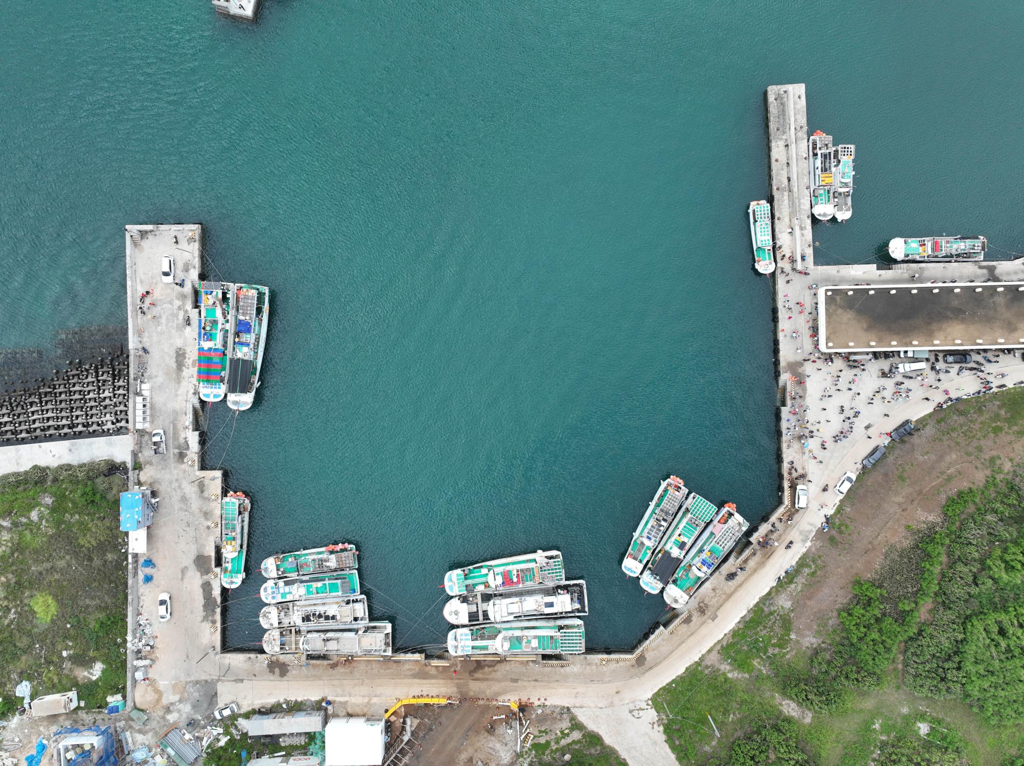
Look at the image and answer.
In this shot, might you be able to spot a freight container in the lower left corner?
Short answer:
Yes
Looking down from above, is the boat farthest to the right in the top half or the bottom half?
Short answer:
top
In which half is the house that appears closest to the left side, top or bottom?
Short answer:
bottom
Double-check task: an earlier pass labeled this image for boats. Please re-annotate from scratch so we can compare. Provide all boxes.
[876,233,986,262]
[258,543,360,579]
[442,579,588,625]
[257,594,370,628]
[224,284,271,415]
[261,620,393,656]
[833,145,859,230]
[258,568,362,602]
[217,496,251,591]
[807,135,835,229]
[666,507,751,612]
[197,281,236,408]
[747,202,779,282]
[622,478,689,580]
[641,493,719,598]
[447,618,584,658]
[440,550,565,595]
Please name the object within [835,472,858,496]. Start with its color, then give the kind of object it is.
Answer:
white car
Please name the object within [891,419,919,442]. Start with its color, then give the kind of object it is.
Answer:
gray car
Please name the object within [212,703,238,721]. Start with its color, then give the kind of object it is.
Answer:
white car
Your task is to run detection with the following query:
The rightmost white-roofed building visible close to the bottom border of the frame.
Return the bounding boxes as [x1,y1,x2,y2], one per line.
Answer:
[323,716,385,766]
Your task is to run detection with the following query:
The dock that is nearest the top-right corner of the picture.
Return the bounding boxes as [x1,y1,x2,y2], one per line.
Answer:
[764,83,813,270]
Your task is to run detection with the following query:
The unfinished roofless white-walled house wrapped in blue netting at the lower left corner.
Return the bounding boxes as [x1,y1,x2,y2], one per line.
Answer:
[52,727,118,766]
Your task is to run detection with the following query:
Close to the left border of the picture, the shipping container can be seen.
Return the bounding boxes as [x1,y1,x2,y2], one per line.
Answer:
[31,691,80,717]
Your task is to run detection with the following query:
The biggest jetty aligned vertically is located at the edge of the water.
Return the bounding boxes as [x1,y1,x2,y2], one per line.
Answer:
[126,223,226,714]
